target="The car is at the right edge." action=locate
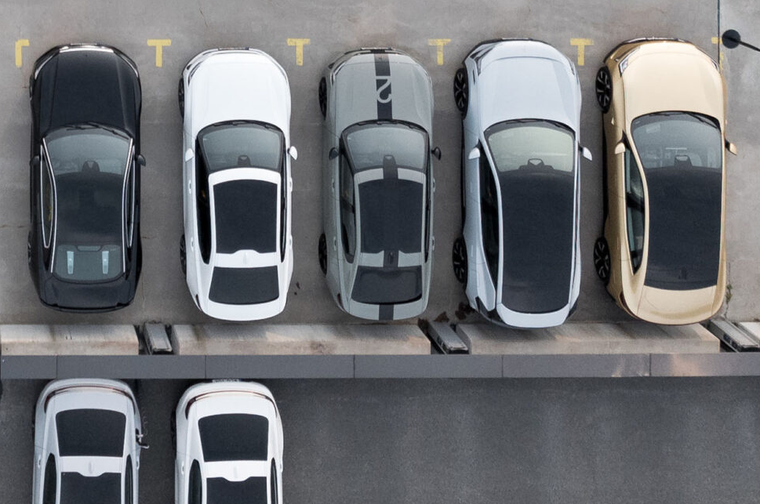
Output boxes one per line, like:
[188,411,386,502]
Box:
[594,36,736,324]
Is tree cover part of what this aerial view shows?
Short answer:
No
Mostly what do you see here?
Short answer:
paved ground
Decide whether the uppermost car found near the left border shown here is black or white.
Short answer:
black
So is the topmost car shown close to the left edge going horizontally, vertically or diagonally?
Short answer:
vertically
